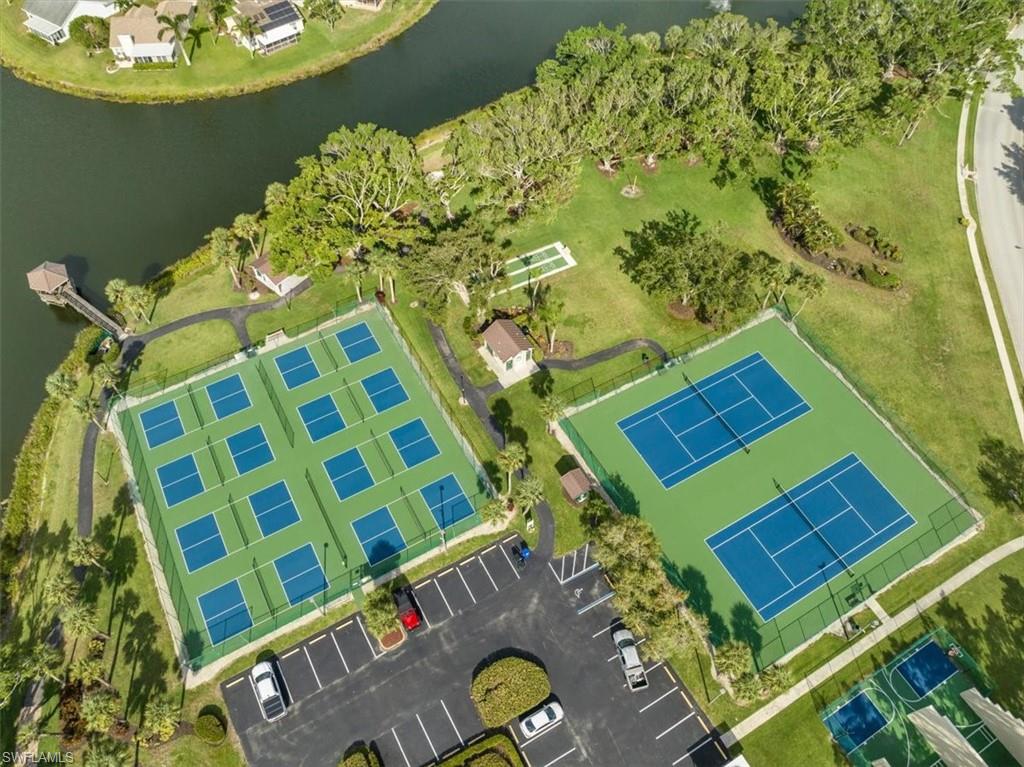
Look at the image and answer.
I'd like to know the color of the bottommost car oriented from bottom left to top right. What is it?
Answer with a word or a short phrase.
white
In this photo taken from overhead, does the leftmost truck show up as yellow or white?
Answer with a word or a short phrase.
white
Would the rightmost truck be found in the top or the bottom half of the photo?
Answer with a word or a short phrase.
bottom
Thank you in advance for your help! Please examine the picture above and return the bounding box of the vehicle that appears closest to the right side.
[613,629,650,690]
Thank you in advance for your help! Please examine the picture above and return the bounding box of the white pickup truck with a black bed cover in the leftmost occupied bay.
[251,661,289,723]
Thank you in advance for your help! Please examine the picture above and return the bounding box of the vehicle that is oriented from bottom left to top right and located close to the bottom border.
[520,702,565,739]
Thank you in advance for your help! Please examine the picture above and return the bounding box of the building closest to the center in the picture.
[483,321,533,370]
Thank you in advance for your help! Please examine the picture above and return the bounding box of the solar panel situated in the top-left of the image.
[252,0,300,35]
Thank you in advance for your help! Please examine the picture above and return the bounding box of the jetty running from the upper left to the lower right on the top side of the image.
[27,262,128,342]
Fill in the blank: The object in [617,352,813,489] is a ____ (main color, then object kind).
blue tennis court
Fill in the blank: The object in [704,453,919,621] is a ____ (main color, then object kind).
blue tennis court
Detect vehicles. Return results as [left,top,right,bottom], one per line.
[613,629,650,690]
[251,661,289,723]
[518,548,529,565]
[520,702,565,739]
[392,590,419,629]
